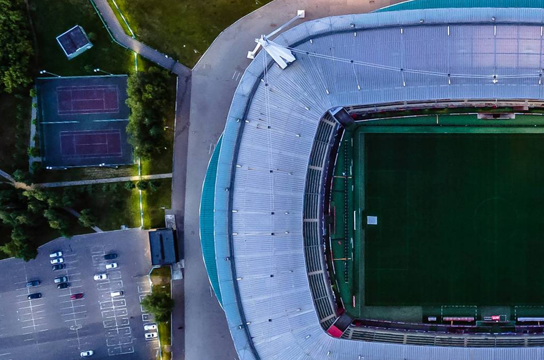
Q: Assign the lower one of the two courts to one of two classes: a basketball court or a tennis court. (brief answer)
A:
tennis court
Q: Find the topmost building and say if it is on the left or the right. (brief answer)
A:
left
